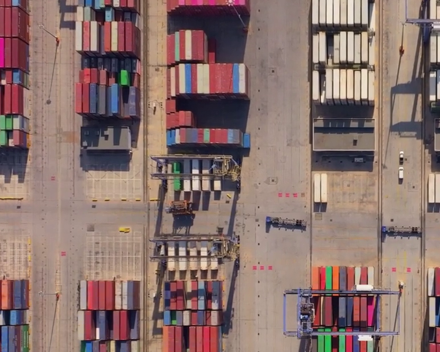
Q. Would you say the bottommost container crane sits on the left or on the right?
right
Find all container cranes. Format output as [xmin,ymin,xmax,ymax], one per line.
[406,0,440,47]
[149,153,241,192]
[283,285,400,341]
[148,231,241,268]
